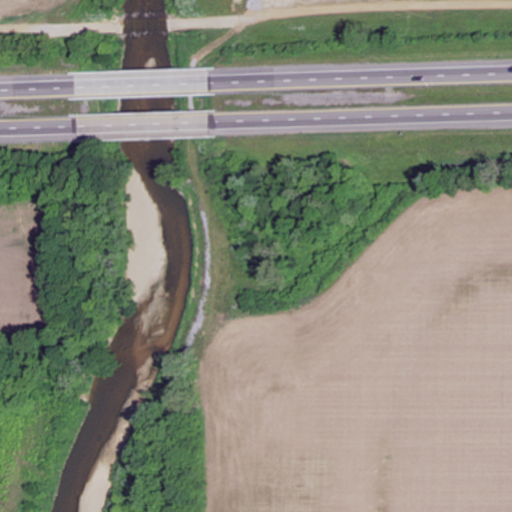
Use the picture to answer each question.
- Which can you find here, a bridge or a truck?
bridge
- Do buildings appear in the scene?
No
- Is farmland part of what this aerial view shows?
Yes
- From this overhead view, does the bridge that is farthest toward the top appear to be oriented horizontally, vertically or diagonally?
horizontally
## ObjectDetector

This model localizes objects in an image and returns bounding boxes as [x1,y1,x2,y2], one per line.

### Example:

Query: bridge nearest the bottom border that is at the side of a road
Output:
[69,110,214,142]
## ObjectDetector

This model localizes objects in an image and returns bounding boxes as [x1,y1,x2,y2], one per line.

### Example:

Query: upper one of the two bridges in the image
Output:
[67,67,214,99]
